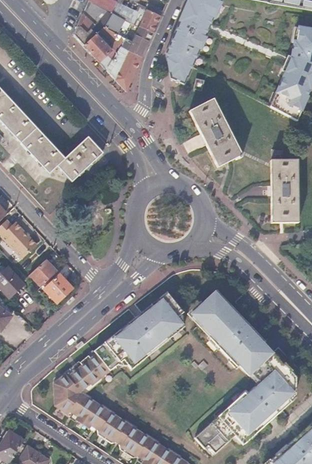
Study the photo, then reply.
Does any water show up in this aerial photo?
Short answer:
No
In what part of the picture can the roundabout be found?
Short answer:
center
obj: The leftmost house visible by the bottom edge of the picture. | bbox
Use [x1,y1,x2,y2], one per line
[0,430,24,464]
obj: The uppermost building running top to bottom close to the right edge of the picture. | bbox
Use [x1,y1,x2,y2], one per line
[270,24,312,120]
